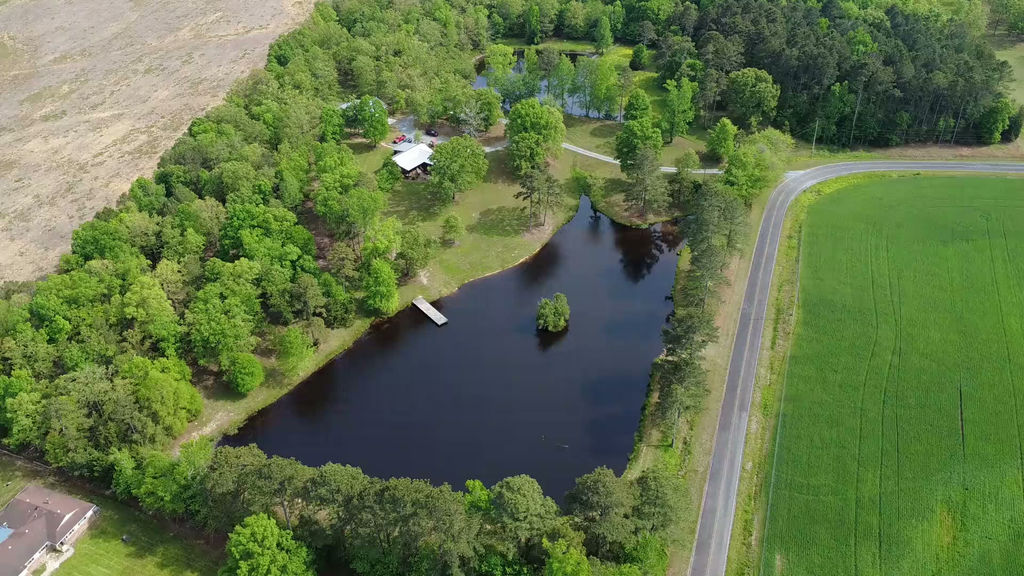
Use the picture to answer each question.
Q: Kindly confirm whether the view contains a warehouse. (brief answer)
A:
No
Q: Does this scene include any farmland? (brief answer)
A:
Yes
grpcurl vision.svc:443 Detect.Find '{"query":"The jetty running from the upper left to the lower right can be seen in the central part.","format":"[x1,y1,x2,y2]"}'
[413,298,449,328]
